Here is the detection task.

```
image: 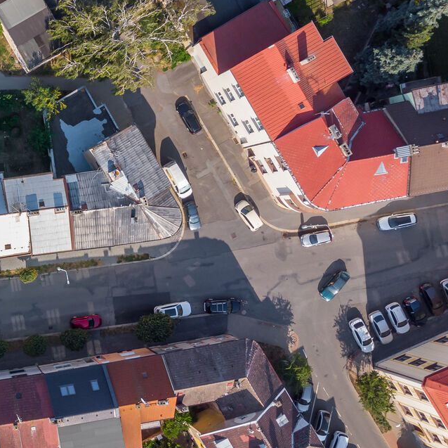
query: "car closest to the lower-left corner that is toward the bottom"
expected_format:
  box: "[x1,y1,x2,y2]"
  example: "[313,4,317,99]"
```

[69,313,101,328]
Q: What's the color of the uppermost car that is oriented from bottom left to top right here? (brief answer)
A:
blue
